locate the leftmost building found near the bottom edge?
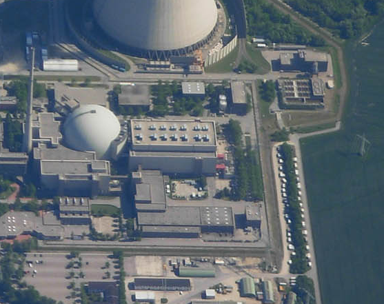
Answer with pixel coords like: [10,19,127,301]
[88,282,119,304]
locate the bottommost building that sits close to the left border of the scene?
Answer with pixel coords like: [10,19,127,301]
[0,211,65,241]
